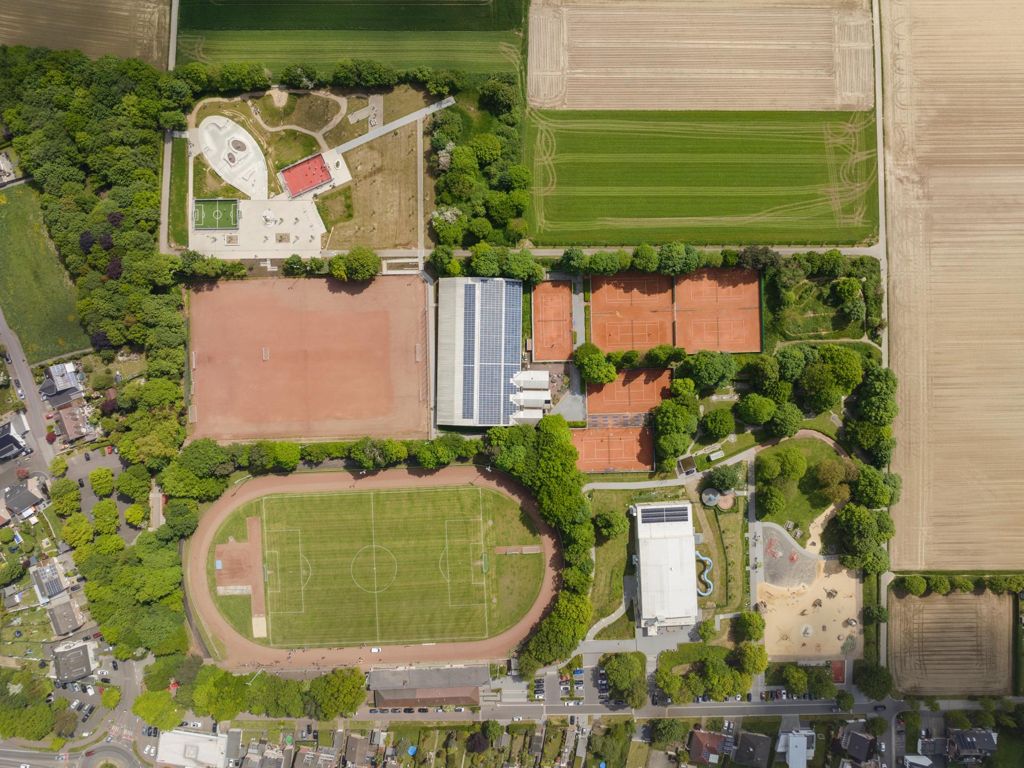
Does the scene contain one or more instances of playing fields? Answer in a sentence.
Yes, there's a playing field here.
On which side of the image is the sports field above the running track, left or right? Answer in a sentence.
It is on the left.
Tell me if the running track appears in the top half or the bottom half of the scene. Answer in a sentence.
Seen from above, the running track lies in the bottom half of the view.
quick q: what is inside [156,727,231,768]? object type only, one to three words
building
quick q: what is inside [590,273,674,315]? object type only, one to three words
tennis court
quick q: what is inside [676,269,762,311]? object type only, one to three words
tennis court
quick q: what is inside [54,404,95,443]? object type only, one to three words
house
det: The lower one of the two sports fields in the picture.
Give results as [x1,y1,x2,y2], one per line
[206,486,545,649]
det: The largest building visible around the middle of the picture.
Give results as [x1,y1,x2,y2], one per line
[437,278,523,425]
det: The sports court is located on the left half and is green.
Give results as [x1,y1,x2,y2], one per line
[189,197,242,230]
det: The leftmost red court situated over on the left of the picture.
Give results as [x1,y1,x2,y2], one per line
[278,151,333,198]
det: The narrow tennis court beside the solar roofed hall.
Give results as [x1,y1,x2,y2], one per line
[533,280,573,361]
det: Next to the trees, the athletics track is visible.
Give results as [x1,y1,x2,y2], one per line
[189,466,564,668]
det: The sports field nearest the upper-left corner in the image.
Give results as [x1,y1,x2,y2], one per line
[186,274,429,445]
